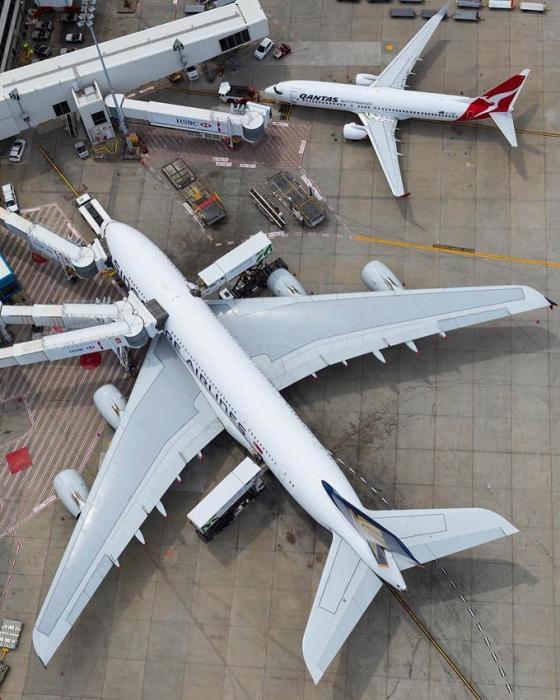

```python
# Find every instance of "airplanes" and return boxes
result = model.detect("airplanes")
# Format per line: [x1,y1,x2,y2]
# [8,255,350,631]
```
[265,0,531,196]
[35,220,556,685]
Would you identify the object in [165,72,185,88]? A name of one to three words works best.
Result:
work vehicle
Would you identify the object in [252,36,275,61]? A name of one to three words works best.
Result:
car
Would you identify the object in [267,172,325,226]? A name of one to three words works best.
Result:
work vehicle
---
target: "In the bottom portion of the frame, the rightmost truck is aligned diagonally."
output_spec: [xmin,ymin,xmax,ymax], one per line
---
[191,455,270,545]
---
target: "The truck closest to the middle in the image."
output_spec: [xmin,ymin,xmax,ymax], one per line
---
[205,241,295,306]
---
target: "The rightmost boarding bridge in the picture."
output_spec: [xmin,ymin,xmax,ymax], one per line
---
[104,96,282,151]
